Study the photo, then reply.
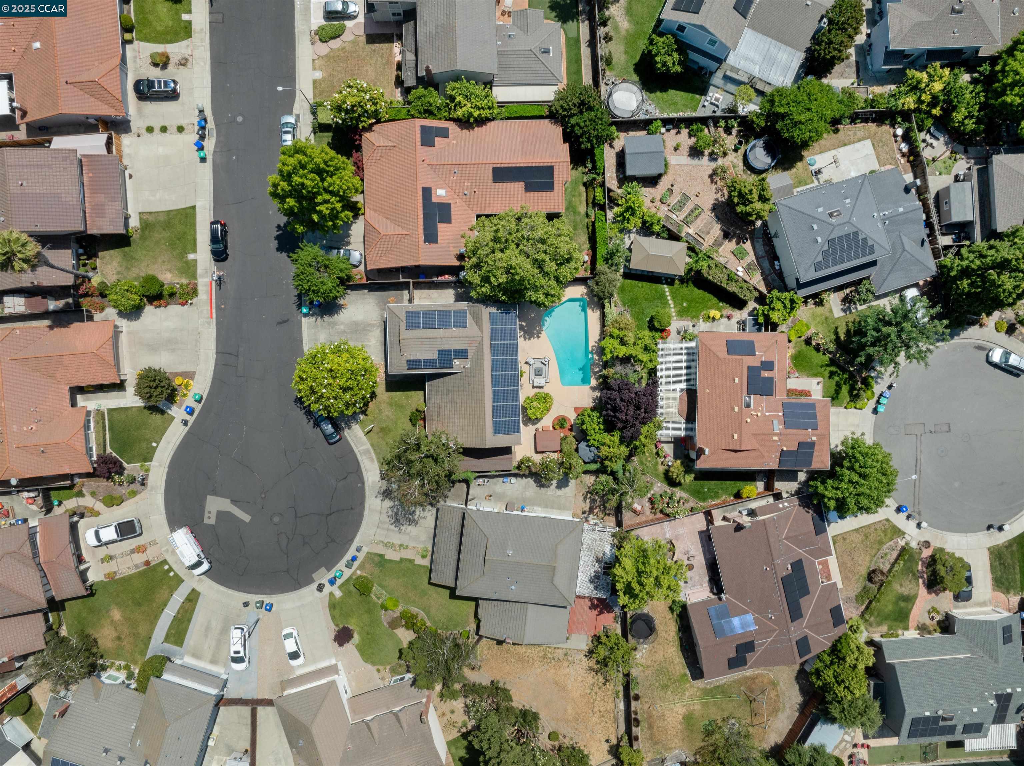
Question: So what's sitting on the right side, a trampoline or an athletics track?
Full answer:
What appears on the right side is a trampoline.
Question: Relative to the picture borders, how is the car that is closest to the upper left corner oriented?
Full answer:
The car that is closest to the upper left corner is laid out horizontally.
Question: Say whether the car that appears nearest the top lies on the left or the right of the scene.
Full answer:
You can find the car that appears nearest the top on the left side of the picture.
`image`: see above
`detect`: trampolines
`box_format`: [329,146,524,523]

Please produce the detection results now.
[629,615,658,644]
[607,76,646,118]
[744,136,780,169]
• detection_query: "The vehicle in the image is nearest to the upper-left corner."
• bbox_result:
[135,77,183,101]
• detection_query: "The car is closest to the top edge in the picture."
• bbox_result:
[322,0,364,22]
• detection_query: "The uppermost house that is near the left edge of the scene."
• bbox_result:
[0,0,134,128]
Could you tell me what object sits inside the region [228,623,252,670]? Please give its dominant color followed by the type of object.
white car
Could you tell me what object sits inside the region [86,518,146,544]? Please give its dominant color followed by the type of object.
white truck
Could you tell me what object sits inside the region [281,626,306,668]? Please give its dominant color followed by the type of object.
white car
